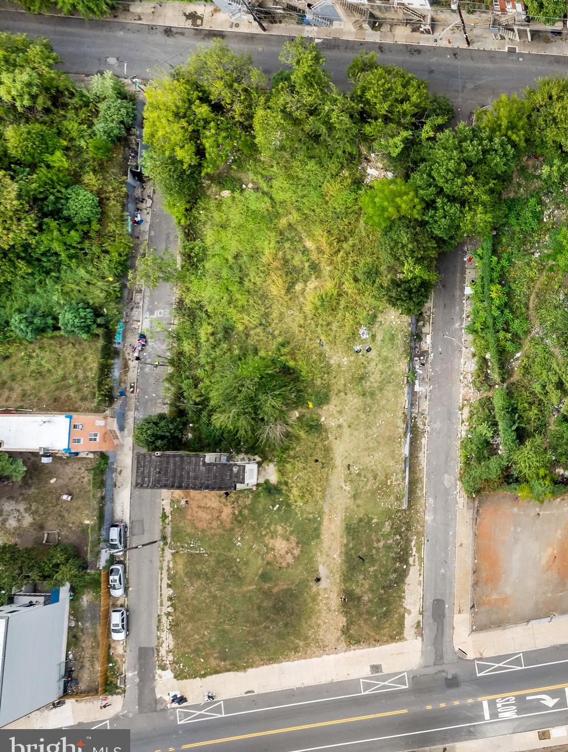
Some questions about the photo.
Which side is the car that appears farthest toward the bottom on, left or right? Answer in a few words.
left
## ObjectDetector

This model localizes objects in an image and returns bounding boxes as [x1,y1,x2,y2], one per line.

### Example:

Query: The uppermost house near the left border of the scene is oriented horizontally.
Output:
[0,414,116,452]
